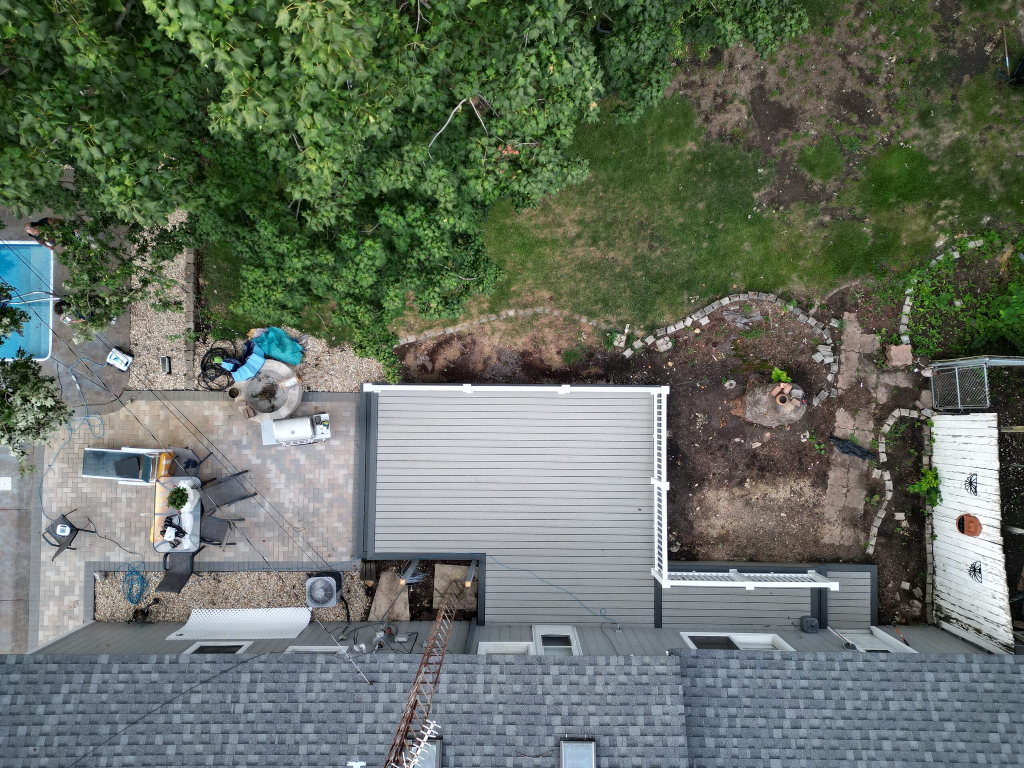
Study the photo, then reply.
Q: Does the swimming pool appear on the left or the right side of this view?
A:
left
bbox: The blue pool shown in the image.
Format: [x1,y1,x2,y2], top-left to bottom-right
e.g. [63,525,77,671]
[0,239,54,361]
